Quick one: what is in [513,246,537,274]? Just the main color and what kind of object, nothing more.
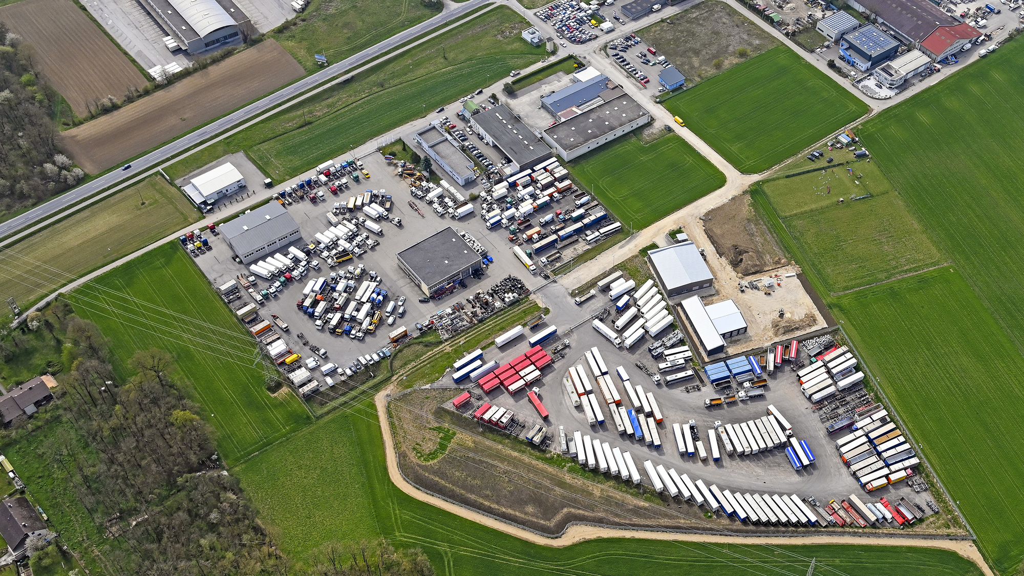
white truck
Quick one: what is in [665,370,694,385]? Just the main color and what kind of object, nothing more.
white vehicle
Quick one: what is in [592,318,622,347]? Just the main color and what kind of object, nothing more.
white truck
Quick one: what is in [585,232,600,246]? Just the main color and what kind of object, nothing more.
white vehicle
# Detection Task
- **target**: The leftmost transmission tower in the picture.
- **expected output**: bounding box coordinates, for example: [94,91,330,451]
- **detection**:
[254,338,281,391]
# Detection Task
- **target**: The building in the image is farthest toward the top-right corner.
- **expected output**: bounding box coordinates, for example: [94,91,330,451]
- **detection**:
[921,23,981,66]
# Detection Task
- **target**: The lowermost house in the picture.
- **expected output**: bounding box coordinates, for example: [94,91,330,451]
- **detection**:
[0,492,50,555]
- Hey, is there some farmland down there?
Yes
